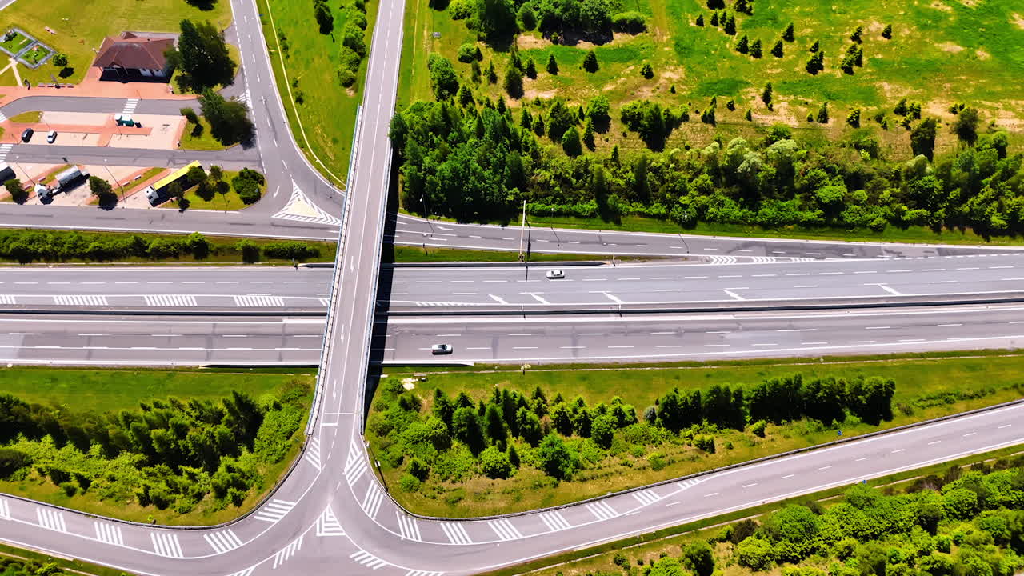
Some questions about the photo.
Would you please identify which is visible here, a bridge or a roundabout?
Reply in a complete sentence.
Looking from above, you can make out a bridge.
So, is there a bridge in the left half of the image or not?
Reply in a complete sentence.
Yes, a bridge shows up in the left half of the image.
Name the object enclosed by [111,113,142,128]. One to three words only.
vehicle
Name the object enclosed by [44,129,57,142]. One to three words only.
vehicle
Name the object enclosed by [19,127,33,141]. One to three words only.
car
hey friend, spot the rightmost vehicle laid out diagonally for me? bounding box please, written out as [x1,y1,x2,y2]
[143,165,204,207]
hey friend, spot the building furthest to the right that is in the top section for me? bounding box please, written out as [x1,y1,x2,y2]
[93,29,175,76]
